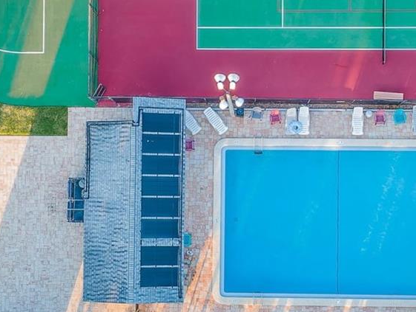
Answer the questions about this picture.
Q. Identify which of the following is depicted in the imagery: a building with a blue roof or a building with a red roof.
building with a blue roof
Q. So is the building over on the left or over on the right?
left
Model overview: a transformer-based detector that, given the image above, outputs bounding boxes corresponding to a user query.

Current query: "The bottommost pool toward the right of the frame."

[213,138,416,307]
